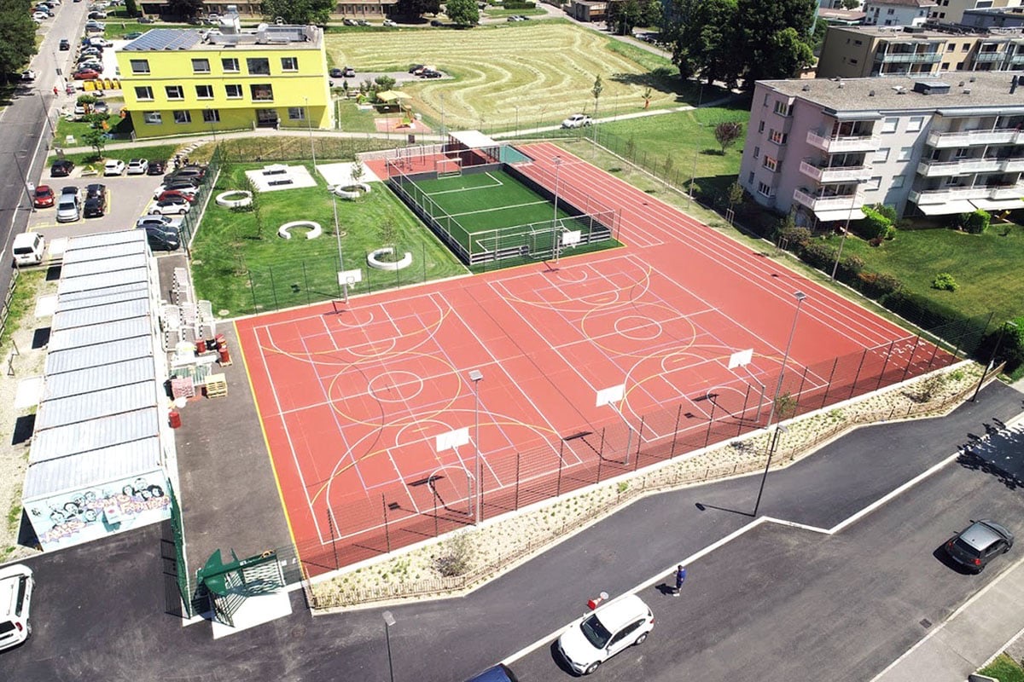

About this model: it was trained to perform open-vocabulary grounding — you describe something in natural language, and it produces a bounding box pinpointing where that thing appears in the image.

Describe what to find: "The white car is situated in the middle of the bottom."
[550,588,654,678]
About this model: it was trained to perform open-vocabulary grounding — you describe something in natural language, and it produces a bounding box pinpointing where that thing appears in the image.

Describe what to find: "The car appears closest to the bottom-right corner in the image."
[941,516,1013,573]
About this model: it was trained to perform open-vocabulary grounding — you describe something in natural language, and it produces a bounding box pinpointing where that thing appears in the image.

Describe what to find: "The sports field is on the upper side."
[386,165,627,274]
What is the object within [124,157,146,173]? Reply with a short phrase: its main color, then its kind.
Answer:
white car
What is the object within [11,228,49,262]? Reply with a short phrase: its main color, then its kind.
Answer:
white van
